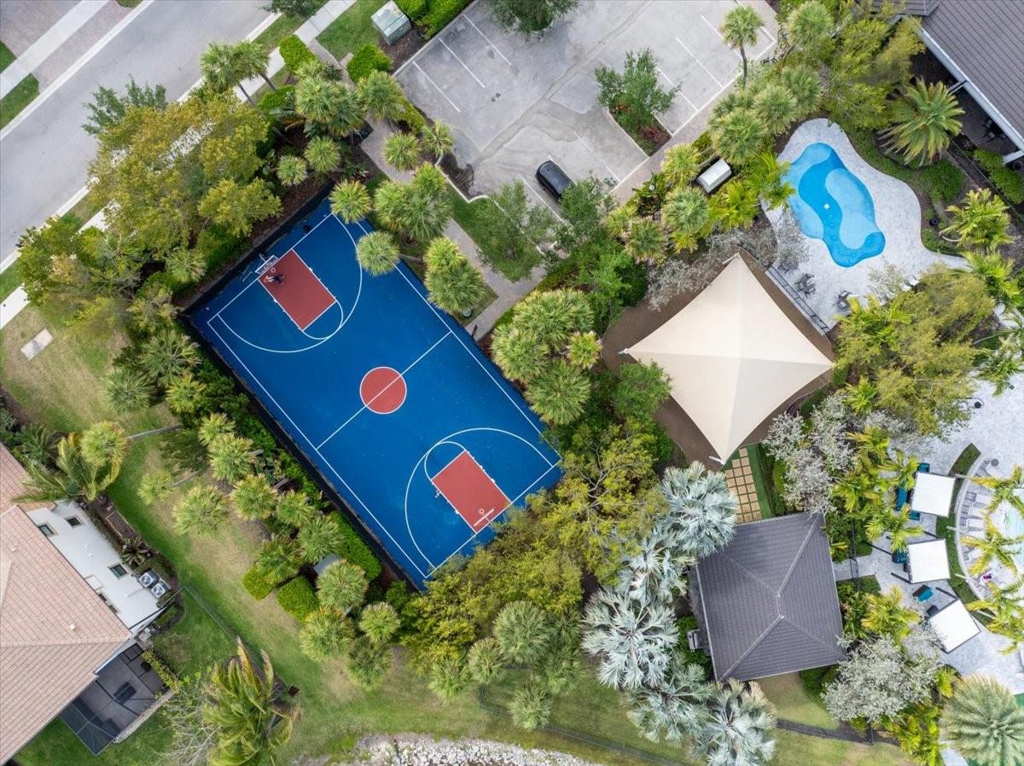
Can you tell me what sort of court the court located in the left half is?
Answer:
basketball court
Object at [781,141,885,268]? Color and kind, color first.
blue swimming pool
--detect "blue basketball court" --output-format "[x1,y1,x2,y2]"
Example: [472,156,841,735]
[183,181,584,602]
